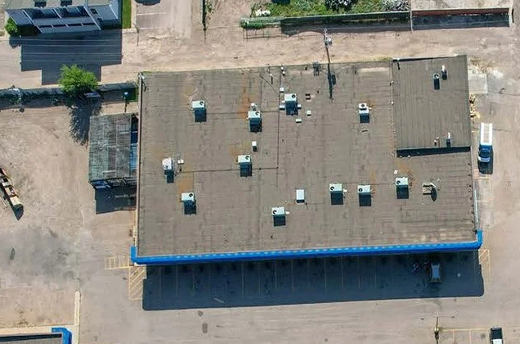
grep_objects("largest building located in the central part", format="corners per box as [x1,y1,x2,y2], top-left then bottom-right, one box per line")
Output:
[131,54,484,266]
